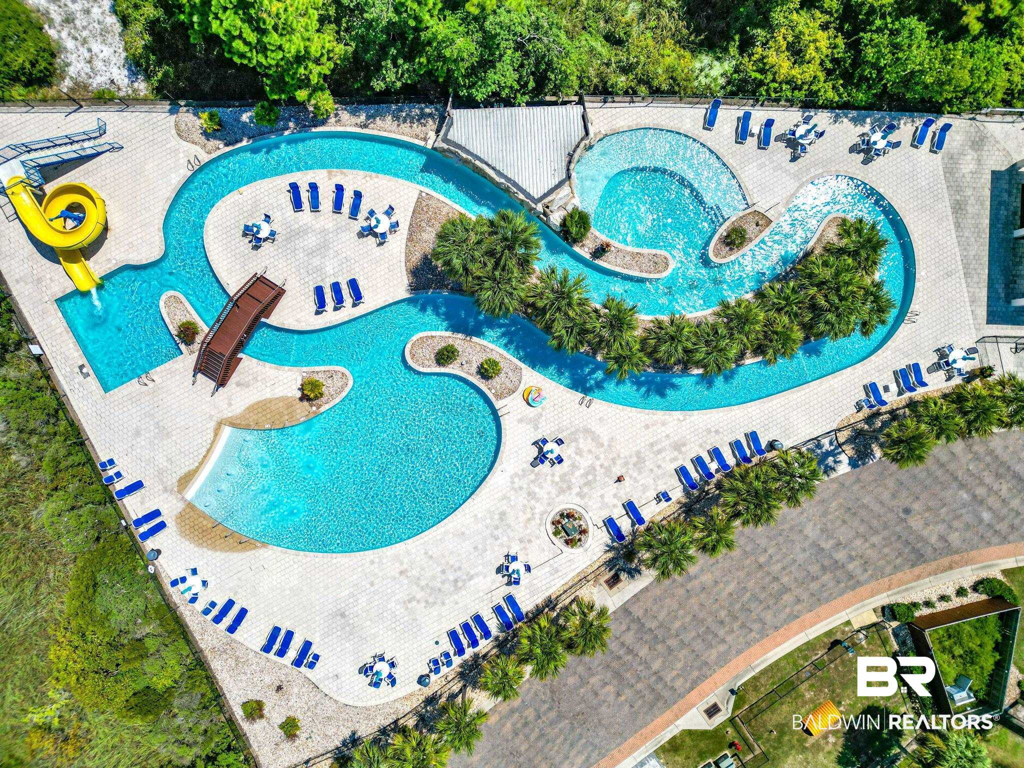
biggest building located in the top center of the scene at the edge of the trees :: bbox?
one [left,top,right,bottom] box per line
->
[428,87,603,225]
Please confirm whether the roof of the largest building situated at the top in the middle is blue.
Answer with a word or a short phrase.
No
